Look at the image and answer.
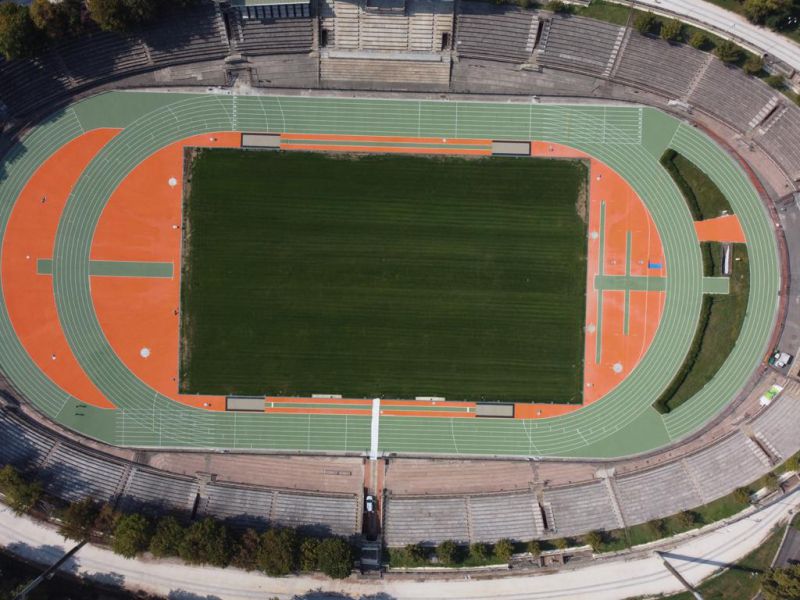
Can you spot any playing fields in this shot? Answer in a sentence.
Yes, a playing field can be made out from above.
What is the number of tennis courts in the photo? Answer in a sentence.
I count no tennis courts.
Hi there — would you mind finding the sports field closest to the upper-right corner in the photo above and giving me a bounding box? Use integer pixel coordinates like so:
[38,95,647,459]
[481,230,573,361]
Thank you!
[695,215,745,243]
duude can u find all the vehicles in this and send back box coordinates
[365,496,373,512]
[774,352,794,365]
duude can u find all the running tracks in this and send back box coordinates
[0,90,781,459]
